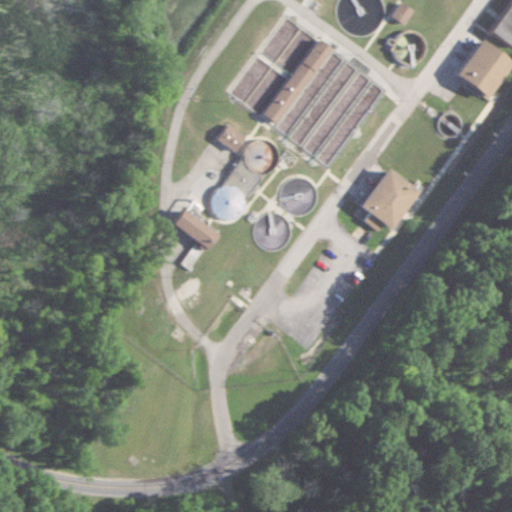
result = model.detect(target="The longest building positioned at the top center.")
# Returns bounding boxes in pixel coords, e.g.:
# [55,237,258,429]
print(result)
[266,42,332,122]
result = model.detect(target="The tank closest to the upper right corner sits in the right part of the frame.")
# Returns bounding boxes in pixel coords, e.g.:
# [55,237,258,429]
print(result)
[388,30,427,68]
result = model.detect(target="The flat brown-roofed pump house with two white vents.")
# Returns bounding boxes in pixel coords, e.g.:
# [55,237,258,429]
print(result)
[218,125,246,153]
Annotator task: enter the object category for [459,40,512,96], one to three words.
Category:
building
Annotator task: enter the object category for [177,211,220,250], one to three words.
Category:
building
